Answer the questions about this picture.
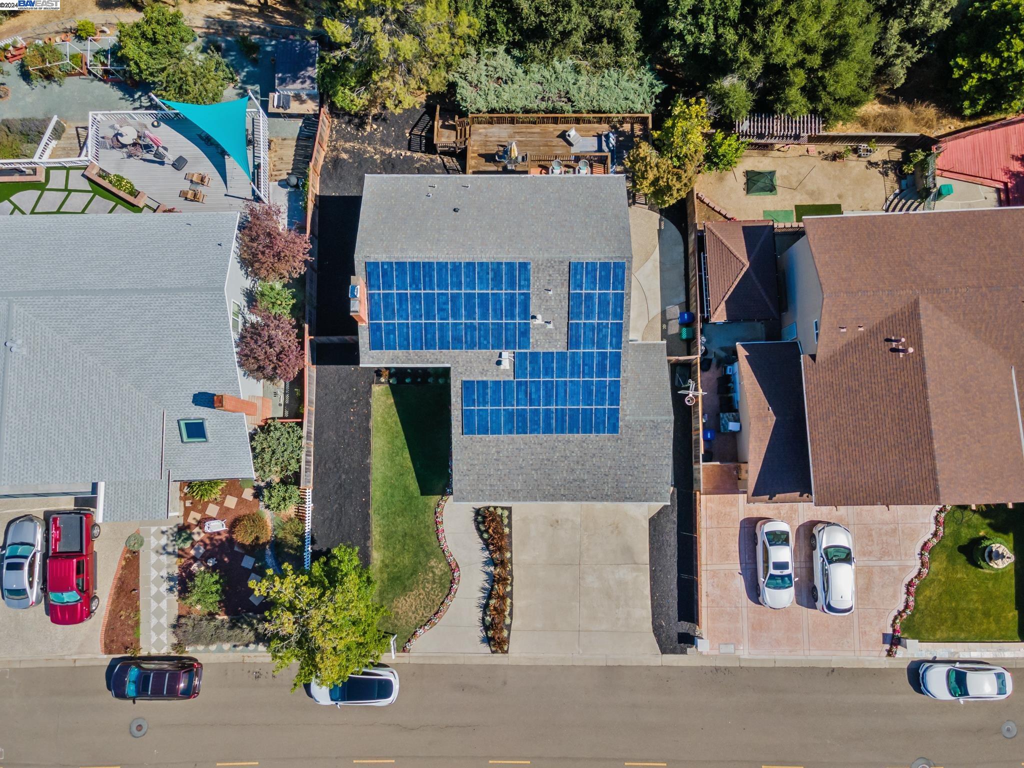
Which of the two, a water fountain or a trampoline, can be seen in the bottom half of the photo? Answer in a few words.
water fountain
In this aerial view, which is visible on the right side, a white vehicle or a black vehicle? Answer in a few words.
white vehicle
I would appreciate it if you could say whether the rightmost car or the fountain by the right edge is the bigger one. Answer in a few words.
the car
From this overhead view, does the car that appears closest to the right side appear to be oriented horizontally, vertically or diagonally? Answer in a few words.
horizontally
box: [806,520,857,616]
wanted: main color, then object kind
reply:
white car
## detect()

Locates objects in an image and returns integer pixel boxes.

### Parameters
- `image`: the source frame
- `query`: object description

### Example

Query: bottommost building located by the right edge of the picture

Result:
[737,213,1024,509]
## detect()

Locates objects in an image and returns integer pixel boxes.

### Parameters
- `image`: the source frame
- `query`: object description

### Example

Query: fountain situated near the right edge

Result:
[972,536,1018,575]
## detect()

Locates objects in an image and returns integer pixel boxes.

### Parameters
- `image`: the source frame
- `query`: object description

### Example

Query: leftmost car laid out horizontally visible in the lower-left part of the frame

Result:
[110,658,207,706]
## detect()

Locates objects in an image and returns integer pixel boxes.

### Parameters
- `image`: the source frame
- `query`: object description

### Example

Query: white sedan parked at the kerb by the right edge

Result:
[915,659,1015,706]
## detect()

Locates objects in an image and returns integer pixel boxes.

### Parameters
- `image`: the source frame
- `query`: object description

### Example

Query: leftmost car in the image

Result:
[0,513,52,610]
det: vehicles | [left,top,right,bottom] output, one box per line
[750,518,798,611]
[310,662,404,712]
[806,520,857,616]
[110,658,207,706]
[44,508,103,622]
[0,513,52,610]
[915,659,1015,706]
